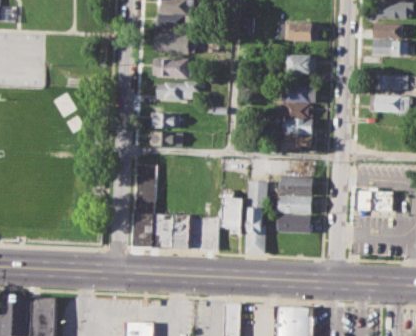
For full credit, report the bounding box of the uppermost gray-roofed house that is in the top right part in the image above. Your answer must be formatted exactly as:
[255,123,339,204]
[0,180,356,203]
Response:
[376,0,414,20]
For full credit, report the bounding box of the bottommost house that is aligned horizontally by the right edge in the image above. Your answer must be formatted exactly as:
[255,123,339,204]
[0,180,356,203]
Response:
[370,94,410,115]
